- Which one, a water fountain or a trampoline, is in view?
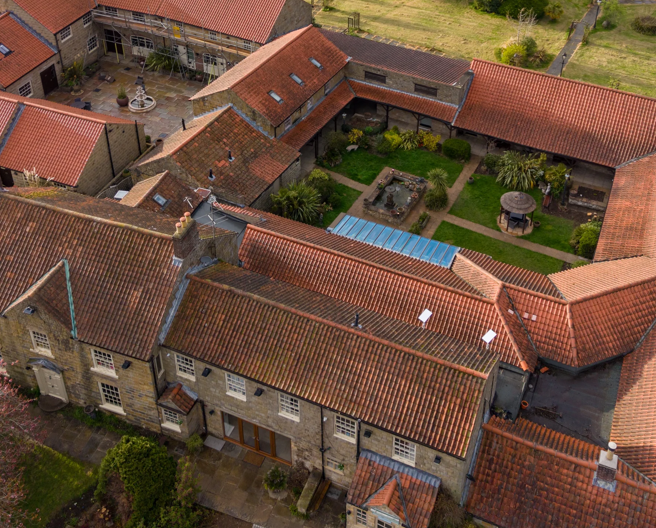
water fountain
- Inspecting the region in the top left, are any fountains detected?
Yes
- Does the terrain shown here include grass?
Yes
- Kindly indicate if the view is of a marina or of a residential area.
residential area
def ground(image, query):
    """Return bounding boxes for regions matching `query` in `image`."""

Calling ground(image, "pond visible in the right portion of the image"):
[362,172,427,226]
